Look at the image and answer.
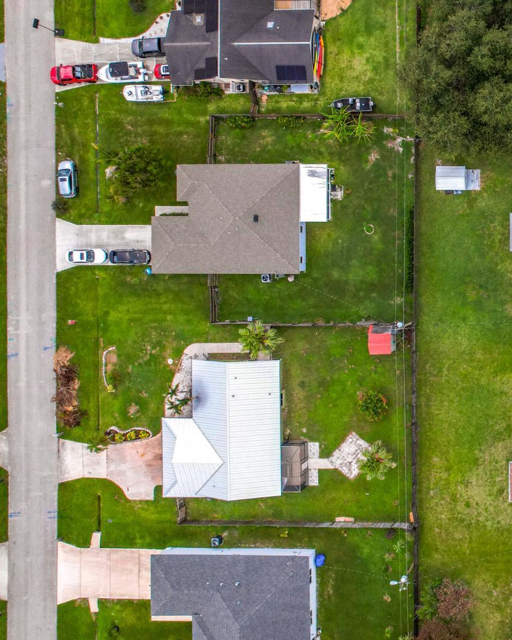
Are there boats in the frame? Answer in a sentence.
Yes, the frame does contain a boat.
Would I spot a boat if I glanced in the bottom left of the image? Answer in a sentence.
No, no boat is visible in the bottom left of the image.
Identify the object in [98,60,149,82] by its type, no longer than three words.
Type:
boat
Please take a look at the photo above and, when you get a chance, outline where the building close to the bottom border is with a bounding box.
[151,546,320,640]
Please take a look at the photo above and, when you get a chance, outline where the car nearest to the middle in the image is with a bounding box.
[109,247,151,267]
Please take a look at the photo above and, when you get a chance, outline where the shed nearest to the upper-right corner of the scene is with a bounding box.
[436,166,481,191]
